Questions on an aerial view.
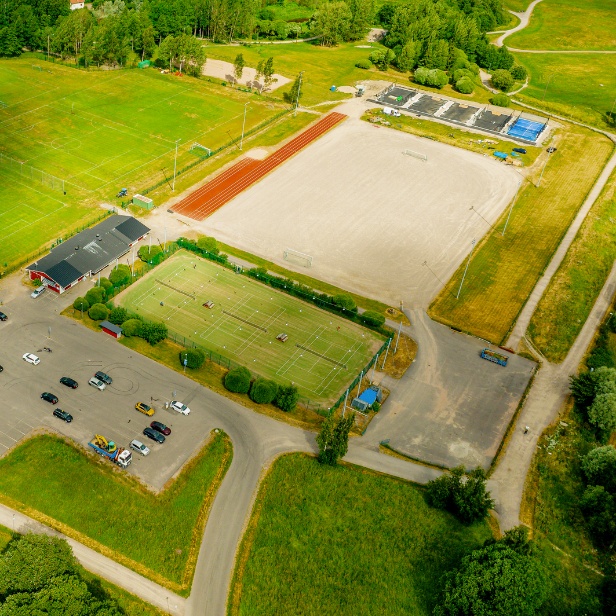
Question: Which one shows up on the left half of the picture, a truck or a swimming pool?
truck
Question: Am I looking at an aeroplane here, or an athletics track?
athletics track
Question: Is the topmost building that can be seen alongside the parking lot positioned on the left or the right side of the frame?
left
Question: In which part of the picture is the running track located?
top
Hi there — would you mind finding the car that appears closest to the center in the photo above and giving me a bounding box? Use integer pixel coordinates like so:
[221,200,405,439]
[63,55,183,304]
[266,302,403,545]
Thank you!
[169,399,191,414]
